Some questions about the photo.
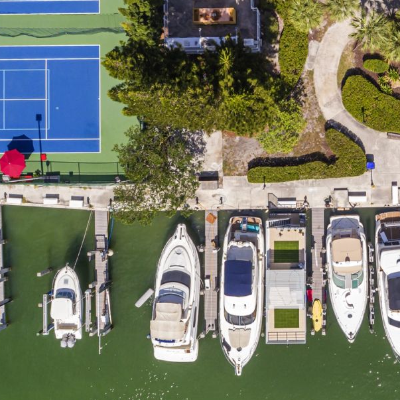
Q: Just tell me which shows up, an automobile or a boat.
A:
boat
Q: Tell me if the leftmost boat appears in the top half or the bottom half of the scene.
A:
bottom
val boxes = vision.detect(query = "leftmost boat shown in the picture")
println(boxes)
[51,263,87,345]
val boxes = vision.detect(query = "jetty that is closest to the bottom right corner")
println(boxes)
[312,209,324,332]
